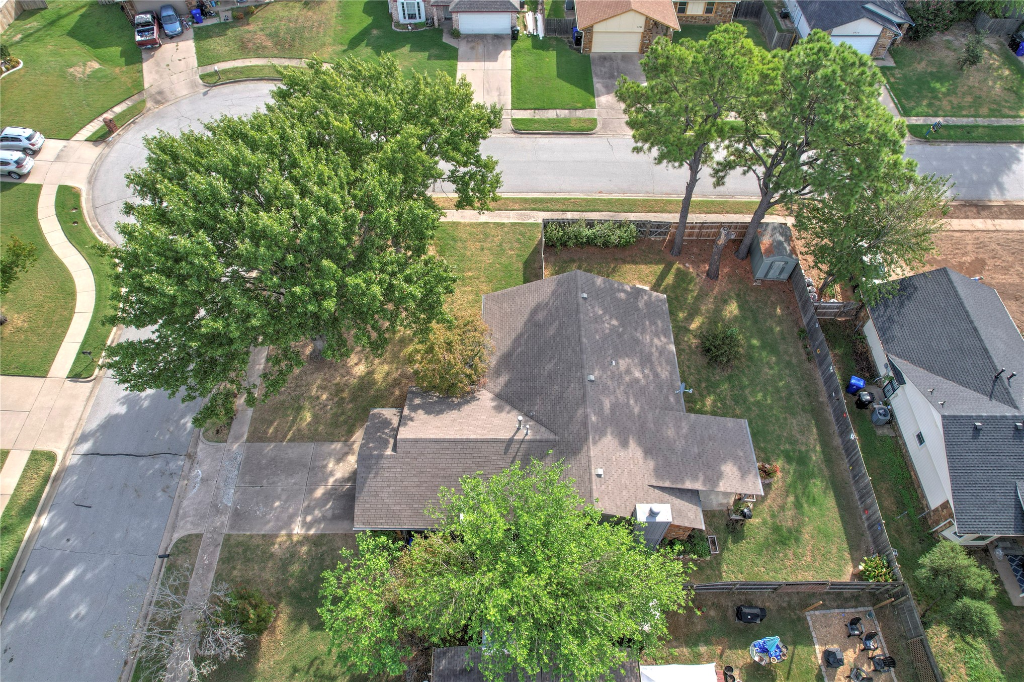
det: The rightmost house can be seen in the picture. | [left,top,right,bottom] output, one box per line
[850,267,1024,551]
